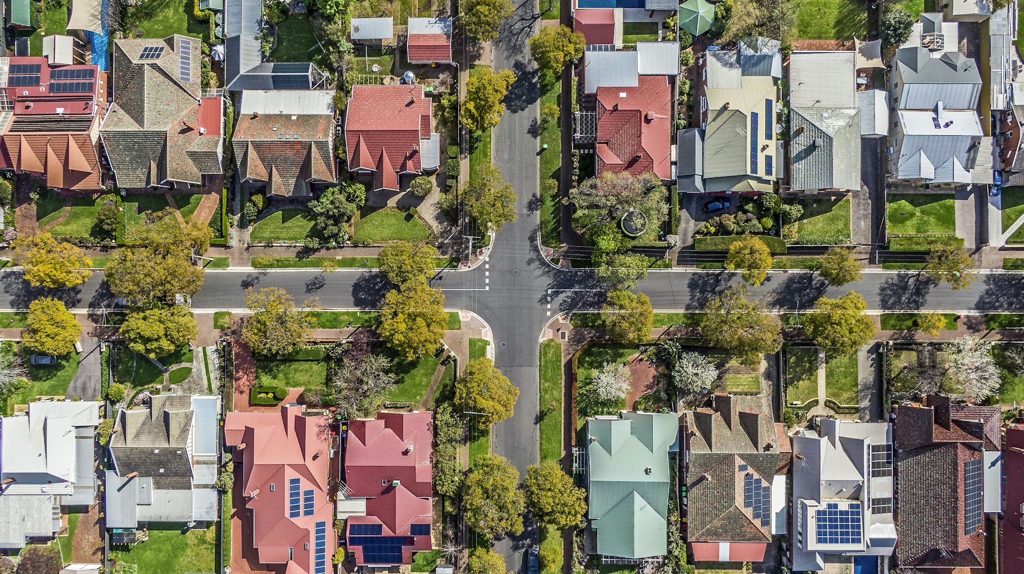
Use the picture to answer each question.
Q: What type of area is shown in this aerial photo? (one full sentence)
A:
This image shows a residential area.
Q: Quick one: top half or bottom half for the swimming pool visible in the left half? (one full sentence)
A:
You can find the swimming pool visible in the left half in the top half.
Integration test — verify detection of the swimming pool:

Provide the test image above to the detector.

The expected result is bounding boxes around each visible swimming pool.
[82,0,110,72]
[854,556,879,574]
[577,0,644,8]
